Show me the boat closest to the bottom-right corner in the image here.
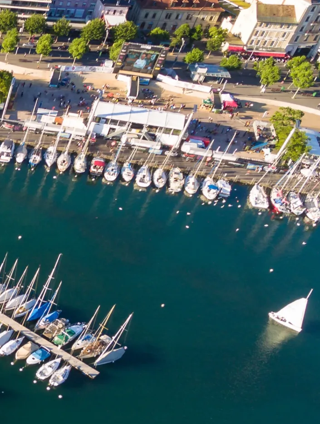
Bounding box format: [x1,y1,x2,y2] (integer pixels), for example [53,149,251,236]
[267,297,304,331]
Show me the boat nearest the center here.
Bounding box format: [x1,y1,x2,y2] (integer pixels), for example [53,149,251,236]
[168,174,184,197]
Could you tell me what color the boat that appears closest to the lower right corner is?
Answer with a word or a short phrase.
white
